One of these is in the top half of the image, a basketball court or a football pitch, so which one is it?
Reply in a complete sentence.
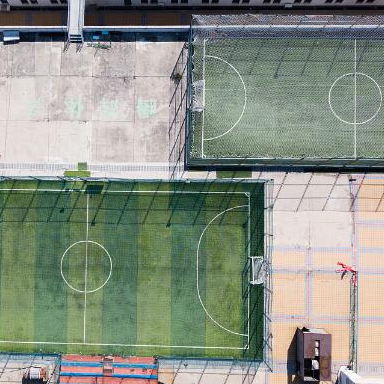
The feature located in the top half of the image is a football pitch.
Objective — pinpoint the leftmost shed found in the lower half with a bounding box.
[297,327,332,382]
